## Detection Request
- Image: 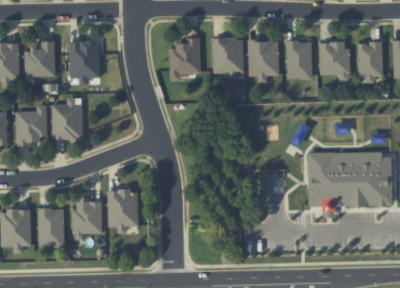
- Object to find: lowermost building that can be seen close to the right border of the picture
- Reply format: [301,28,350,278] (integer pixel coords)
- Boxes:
[308,152,392,218]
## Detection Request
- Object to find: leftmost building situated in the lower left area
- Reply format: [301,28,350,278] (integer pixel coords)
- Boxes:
[0,210,30,254]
